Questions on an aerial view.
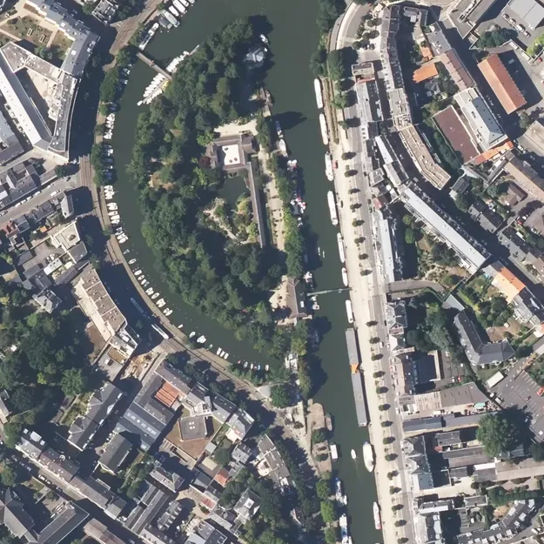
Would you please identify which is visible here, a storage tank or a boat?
boat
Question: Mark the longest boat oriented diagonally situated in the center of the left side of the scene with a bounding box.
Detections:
[115,271,146,309]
